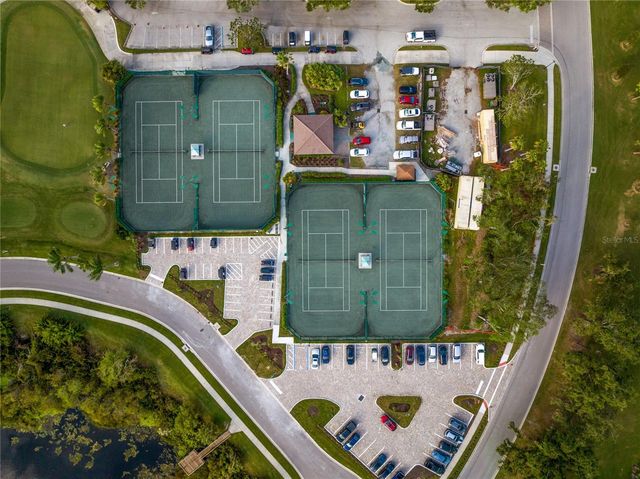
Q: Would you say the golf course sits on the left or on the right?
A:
left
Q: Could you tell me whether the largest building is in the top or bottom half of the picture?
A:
top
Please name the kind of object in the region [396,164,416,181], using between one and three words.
shed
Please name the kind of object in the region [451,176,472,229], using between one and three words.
trailer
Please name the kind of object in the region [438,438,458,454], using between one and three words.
car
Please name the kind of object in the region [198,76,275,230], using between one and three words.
tennis court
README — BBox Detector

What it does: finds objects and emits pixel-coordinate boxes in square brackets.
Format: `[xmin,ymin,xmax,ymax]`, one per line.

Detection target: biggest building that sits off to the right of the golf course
[291,113,333,154]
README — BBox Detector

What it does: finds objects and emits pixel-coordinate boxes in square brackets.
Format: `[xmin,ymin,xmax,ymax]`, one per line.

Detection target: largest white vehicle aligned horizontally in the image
[406,29,436,43]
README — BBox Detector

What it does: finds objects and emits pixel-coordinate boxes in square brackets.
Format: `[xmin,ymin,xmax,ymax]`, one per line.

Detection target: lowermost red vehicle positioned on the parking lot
[380,413,398,431]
